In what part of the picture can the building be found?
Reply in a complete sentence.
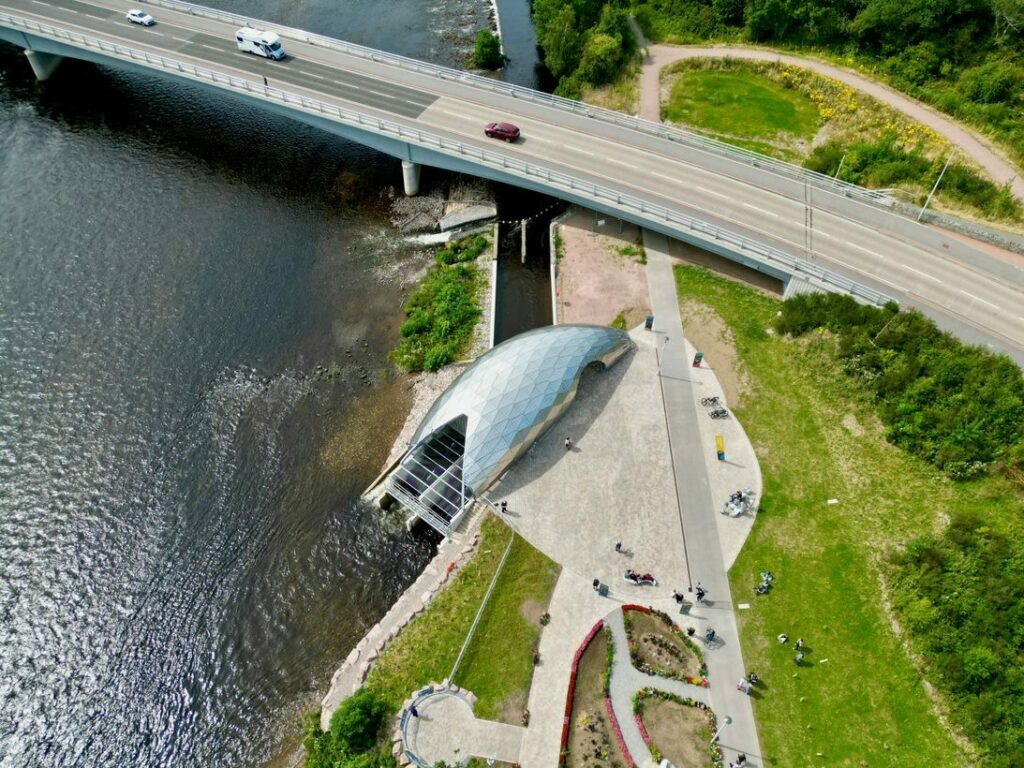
The building is located in the center region of the scene.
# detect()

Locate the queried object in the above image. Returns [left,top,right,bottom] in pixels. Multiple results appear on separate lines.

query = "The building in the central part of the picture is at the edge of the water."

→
[381,326,628,551]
